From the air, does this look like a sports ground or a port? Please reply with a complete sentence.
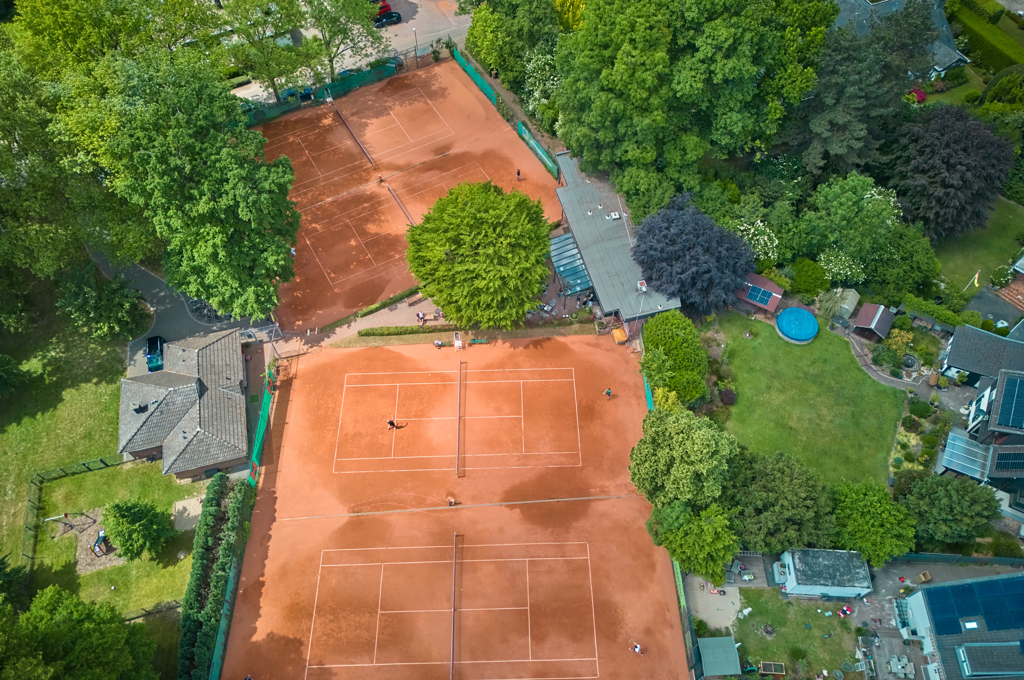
It's a sports ground.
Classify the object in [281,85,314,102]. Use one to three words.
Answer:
car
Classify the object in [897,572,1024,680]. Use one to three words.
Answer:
house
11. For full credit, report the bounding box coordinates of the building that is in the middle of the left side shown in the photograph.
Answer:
[118,327,253,482]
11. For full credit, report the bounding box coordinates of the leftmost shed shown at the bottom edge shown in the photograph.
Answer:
[695,637,741,678]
